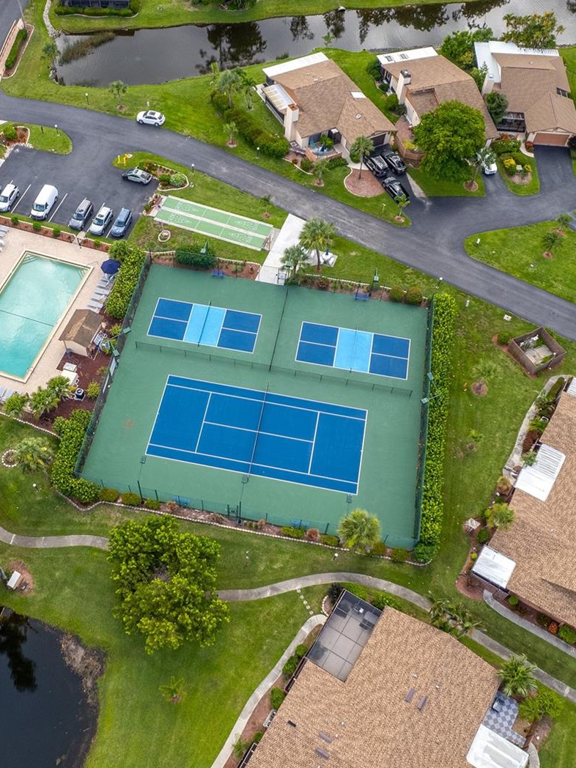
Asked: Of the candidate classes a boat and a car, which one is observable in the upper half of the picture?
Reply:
car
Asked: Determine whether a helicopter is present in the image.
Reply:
No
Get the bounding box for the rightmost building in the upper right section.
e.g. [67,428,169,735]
[474,40,576,147]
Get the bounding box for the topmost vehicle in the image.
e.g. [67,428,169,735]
[134,110,167,128]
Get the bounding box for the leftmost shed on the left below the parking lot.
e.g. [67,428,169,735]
[58,309,103,355]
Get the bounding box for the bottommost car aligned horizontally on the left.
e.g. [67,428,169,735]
[119,167,153,186]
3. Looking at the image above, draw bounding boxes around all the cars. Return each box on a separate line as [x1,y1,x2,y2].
[134,110,167,128]
[362,152,390,178]
[89,203,113,235]
[109,205,133,236]
[0,180,18,211]
[479,156,499,179]
[381,151,409,177]
[69,196,94,229]
[119,167,153,186]
[384,175,410,199]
